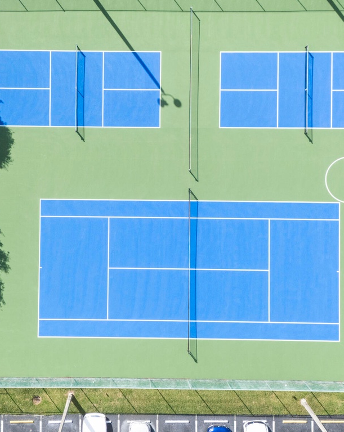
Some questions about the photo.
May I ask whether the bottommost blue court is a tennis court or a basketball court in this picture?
tennis court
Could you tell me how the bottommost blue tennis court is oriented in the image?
from side to side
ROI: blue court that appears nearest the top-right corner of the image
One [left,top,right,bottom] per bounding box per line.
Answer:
[219,51,344,129]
